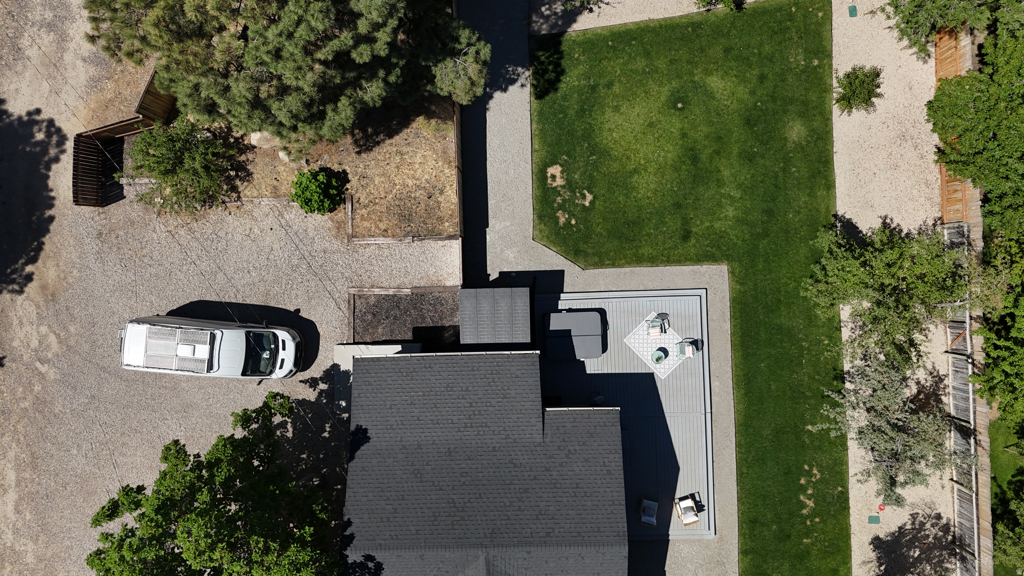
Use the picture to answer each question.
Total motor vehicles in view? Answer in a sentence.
There is 1 motor vehicle in the image.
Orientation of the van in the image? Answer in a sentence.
The van has been laid out horizontally relative to the frame.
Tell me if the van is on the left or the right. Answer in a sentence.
You can find the van on the left side of the picture.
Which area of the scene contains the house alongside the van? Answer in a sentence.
You can find the house alongside the van in the bottom area of the picture.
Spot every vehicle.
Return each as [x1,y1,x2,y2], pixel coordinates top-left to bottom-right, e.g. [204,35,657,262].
[116,315,308,389]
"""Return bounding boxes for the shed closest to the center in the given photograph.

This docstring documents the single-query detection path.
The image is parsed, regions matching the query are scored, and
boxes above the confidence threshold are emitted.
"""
[459,287,531,344]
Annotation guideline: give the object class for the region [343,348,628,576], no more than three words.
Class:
house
